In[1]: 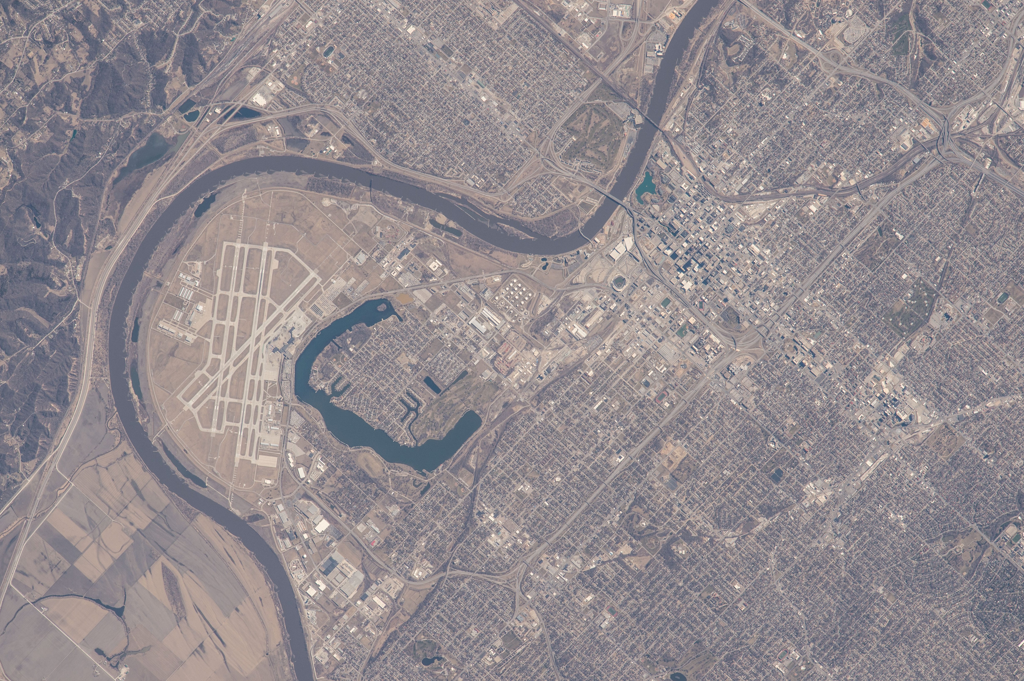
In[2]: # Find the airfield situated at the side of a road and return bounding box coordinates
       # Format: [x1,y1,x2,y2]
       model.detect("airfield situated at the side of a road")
[152,189,330,508]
